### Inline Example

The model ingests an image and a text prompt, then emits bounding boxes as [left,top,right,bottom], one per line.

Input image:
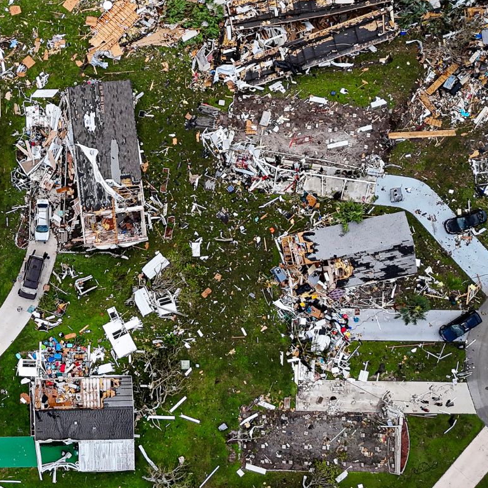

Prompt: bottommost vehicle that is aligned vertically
[19,254,44,300]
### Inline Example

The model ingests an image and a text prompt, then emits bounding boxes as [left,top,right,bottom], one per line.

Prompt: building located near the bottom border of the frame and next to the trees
[33,371,134,481]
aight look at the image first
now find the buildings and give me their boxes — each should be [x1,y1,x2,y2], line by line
[68,81,148,246]
[33,371,134,481]
[270,211,418,292]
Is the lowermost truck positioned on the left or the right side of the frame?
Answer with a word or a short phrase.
right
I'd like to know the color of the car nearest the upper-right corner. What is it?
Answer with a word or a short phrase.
black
